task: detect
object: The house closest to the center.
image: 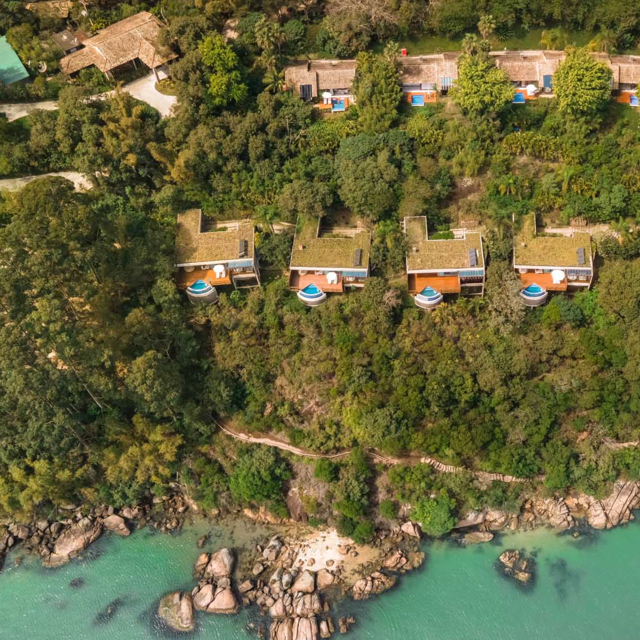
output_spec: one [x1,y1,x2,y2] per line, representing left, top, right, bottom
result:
[290,216,373,310]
